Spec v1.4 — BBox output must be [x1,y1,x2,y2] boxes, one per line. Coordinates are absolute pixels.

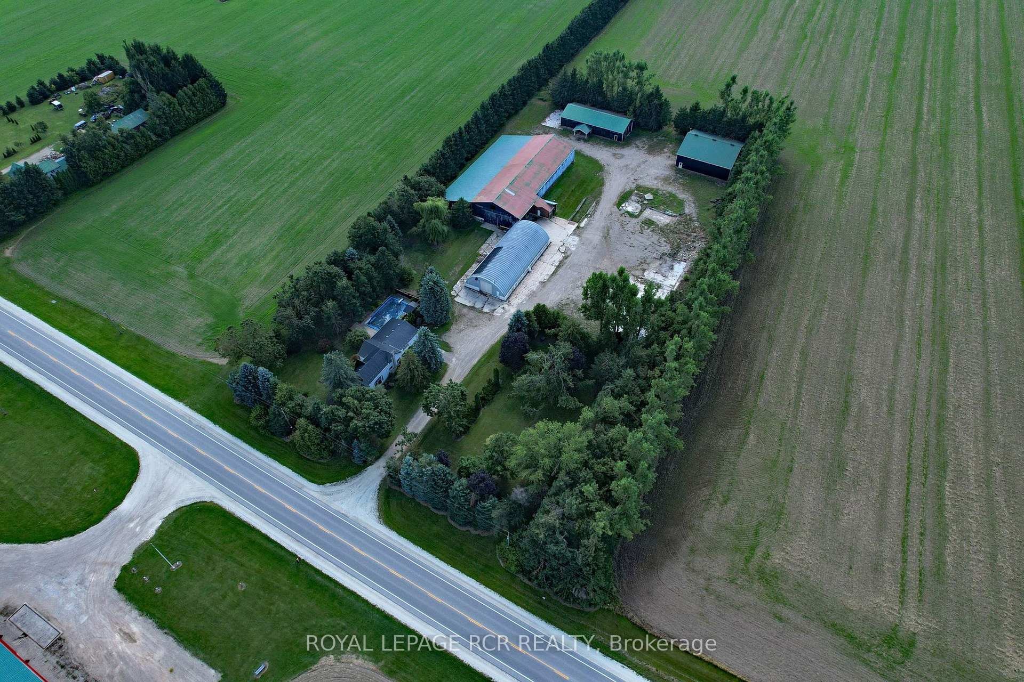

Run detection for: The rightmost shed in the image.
[675,128,748,179]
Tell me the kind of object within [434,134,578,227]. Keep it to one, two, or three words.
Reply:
barn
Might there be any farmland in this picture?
Yes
